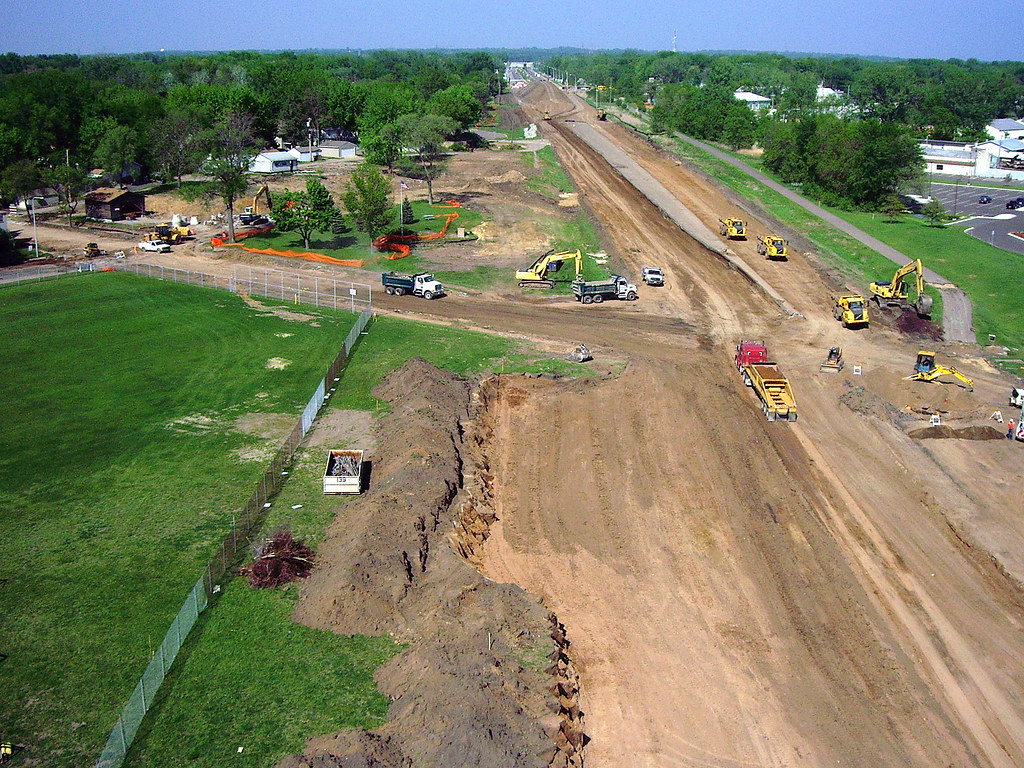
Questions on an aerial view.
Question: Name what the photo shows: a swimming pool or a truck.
truck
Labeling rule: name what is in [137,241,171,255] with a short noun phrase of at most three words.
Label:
vehicle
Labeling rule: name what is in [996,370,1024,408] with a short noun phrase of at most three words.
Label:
work vehicle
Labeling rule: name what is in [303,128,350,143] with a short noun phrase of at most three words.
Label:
house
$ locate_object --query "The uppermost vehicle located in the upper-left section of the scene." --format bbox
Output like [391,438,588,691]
[238,177,282,225]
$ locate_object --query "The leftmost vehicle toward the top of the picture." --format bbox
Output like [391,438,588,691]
[77,238,110,257]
